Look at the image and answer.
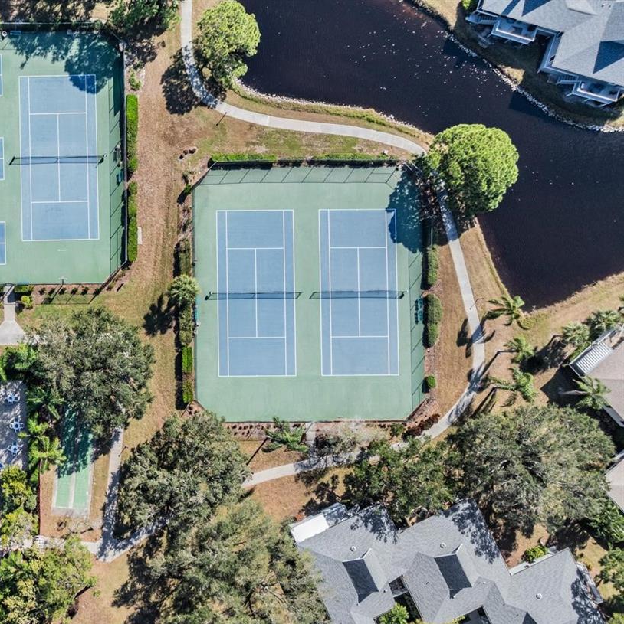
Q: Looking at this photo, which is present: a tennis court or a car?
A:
tennis court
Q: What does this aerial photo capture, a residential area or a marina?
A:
residential area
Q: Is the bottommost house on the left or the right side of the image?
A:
right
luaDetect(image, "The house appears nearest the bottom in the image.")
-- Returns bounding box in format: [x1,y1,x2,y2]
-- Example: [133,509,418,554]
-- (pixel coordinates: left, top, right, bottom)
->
[291,499,607,624]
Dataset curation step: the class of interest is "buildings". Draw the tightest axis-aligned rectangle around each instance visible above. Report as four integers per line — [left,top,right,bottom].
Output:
[596,443,624,504]
[291,499,607,624]
[559,328,624,443]
[464,0,624,108]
